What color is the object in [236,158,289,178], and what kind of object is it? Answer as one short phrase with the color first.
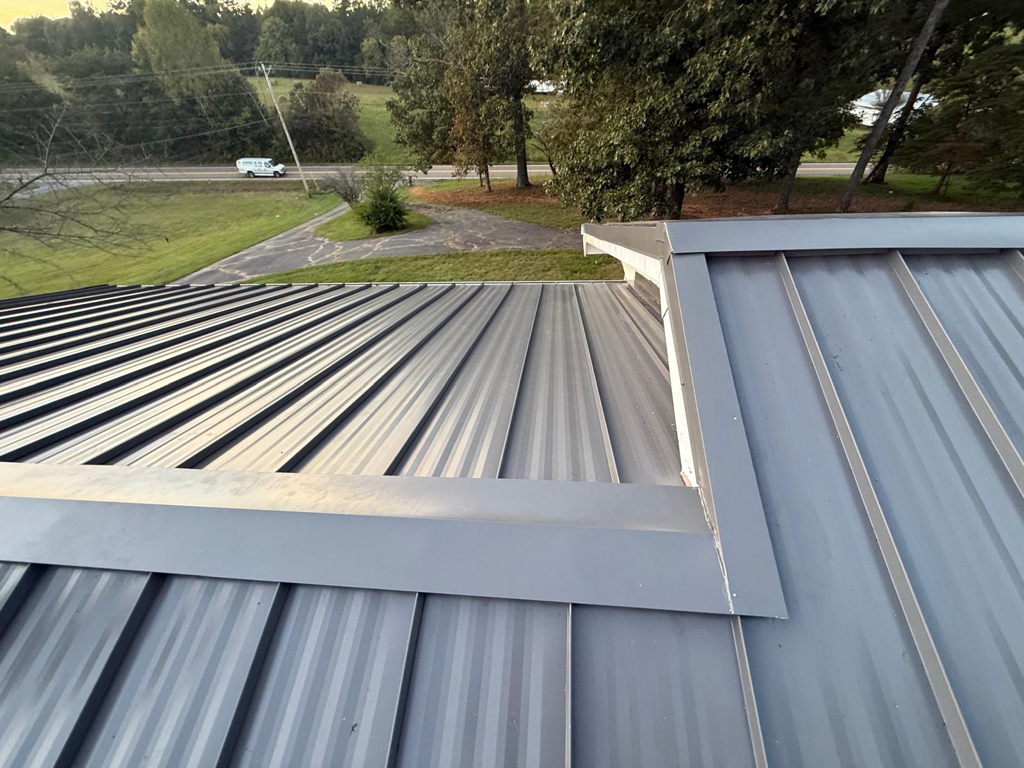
white vehicle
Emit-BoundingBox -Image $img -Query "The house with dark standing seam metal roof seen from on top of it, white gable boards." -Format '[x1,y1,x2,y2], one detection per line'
[0,209,1024,768]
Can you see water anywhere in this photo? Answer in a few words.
No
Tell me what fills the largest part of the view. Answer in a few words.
buildings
